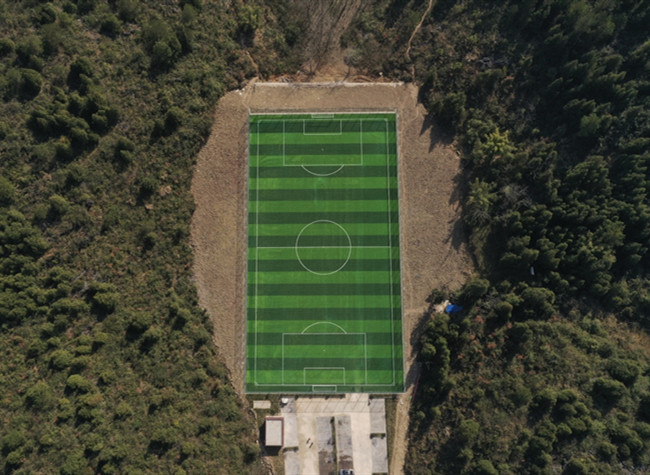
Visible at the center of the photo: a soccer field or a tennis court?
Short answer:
soccer field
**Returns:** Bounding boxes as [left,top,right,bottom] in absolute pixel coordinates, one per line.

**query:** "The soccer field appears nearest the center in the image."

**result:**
[245,112,404,393]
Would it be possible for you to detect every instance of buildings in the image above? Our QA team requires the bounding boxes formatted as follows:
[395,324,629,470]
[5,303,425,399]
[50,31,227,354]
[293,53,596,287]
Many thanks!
[267,416,284,446]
